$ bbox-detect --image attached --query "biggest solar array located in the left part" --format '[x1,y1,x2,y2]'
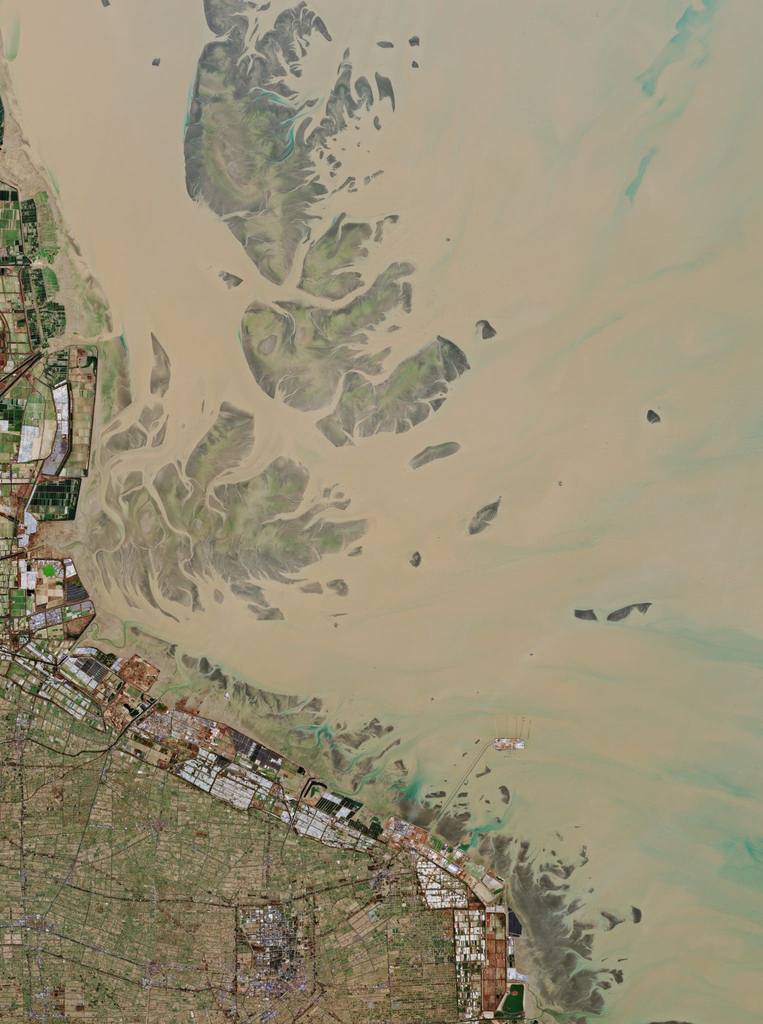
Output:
[66,580,89,602]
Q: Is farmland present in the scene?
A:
Yes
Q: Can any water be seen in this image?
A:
Yes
